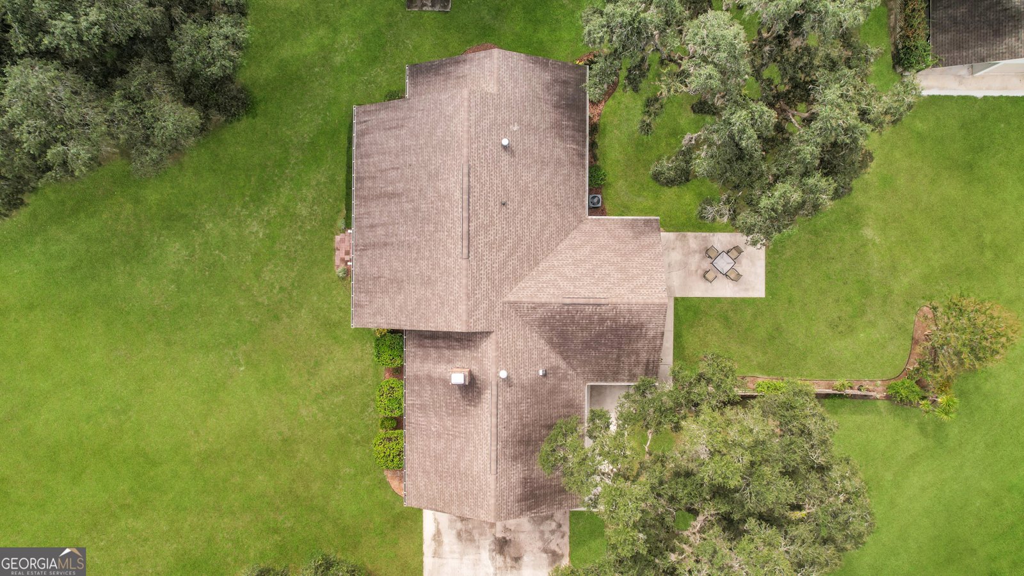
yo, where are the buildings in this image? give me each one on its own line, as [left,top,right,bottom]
[921,0,1024,76]
[350,48,670,524]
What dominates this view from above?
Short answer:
grass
